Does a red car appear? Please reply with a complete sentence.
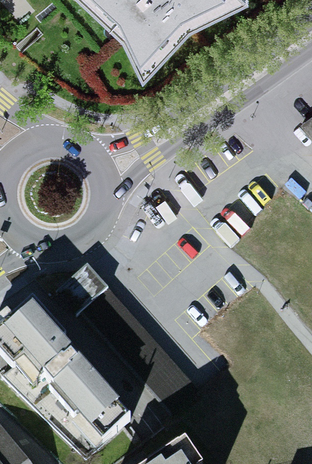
Yes, the picture does show a red car.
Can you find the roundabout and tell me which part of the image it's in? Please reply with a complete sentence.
The roundabout sits in the left section of the image.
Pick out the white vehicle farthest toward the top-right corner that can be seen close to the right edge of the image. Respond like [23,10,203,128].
[293,126,312,146]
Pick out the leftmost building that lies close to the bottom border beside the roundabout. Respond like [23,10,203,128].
[0,295,130,461]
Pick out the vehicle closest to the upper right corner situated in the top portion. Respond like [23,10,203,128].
[294,97,310,118]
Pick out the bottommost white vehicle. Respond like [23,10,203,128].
[188,304,209,326]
